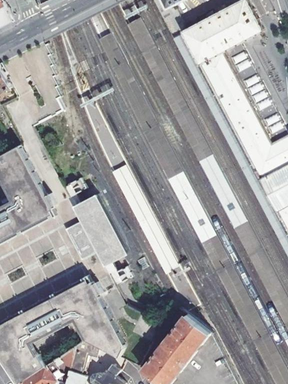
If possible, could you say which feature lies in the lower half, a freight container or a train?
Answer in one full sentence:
The feature located in the lower half is a train.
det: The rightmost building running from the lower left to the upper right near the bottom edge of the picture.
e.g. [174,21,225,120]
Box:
[140,312,213,384]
